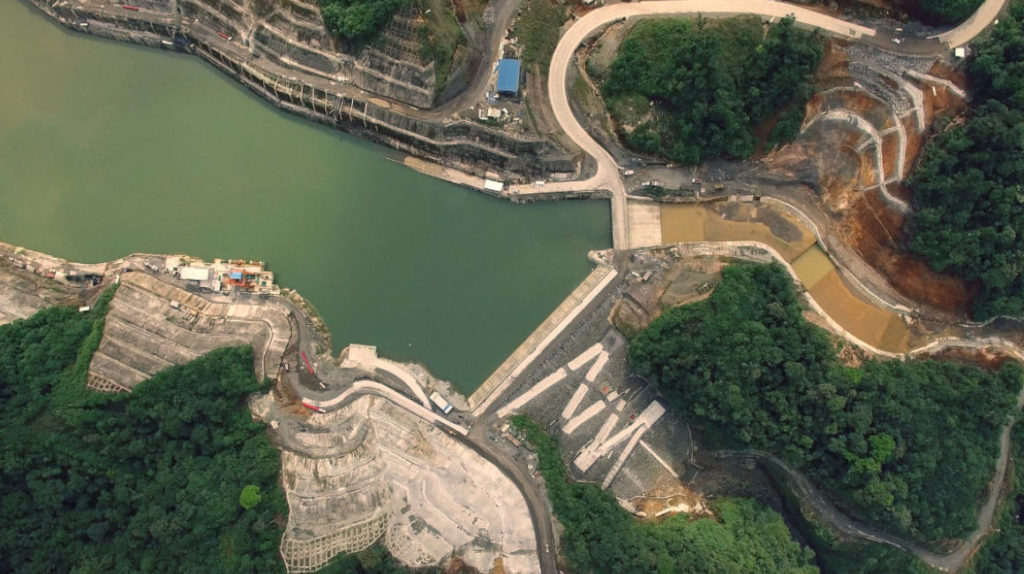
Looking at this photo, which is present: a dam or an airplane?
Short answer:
dam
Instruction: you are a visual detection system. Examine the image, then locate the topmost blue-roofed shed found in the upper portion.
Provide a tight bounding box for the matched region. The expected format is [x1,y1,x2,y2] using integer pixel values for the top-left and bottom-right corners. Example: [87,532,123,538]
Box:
[496,58,521,97]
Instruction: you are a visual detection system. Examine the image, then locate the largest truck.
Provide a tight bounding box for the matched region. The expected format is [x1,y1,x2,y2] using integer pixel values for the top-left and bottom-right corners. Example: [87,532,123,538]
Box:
[428,390,452,416]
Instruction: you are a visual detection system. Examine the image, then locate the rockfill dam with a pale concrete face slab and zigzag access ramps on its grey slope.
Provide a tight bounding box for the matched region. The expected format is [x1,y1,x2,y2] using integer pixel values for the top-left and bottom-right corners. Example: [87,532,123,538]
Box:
[469,267,691,501]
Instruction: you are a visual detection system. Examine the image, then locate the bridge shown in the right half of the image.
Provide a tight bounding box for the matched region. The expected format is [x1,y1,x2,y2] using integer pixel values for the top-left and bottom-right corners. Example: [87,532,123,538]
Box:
[611,193,630,250]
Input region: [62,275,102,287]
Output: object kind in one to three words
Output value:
building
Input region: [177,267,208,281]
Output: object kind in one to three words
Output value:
shed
